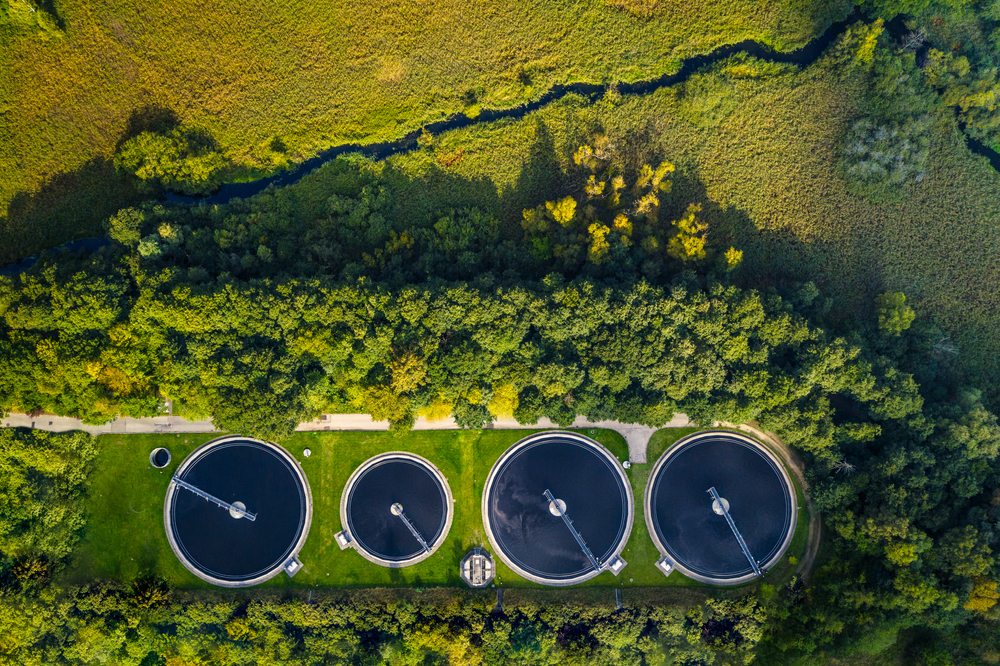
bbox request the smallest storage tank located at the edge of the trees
[332,451,455,568]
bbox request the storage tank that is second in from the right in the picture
[481,432,635,586]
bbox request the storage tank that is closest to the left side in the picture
[162,436,313,588]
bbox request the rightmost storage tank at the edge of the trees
[645,431,798,586]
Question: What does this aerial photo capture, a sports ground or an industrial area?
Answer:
industrial area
